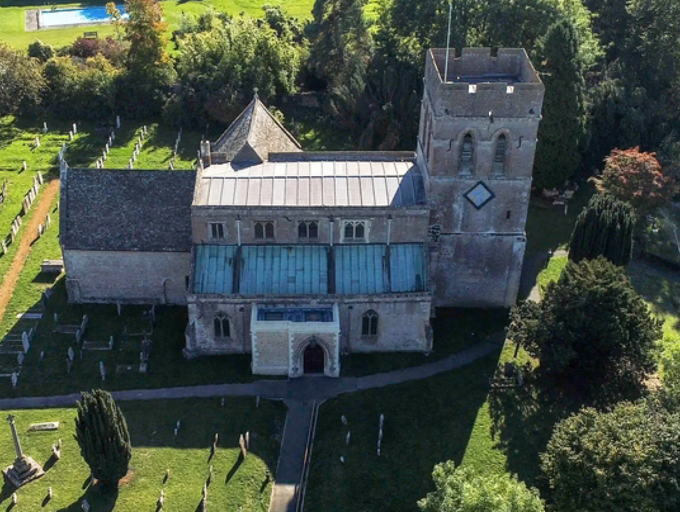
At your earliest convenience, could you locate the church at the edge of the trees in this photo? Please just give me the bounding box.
[56,2,548,378]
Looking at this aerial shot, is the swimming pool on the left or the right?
left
